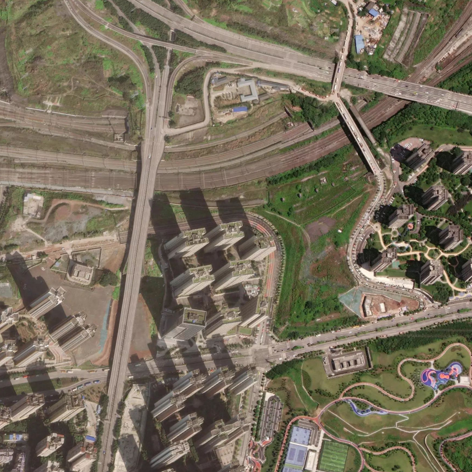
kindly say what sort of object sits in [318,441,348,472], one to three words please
soccer field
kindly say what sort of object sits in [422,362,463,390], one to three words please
playground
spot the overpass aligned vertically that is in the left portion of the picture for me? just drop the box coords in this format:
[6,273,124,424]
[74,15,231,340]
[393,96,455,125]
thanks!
[99,111,163,472]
